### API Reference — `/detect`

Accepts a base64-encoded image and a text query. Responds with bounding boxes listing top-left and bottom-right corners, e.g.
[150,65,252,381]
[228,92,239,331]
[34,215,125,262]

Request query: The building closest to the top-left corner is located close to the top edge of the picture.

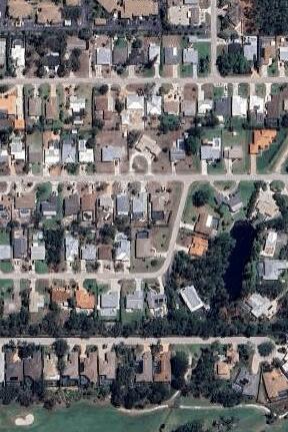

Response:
[7,0,32,19]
